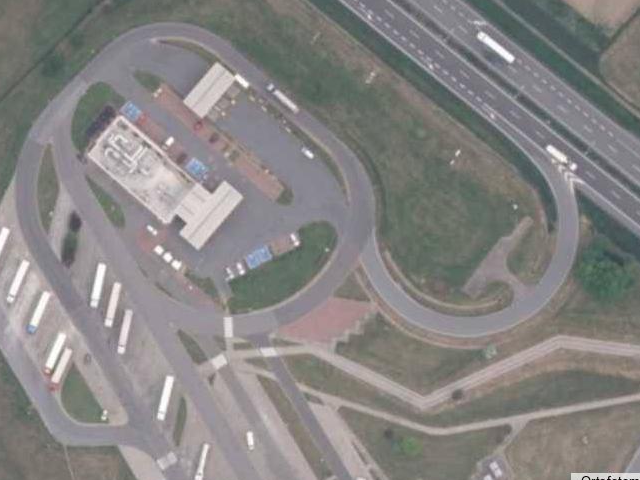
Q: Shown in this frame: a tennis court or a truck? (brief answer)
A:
truck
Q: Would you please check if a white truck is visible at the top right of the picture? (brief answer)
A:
Yes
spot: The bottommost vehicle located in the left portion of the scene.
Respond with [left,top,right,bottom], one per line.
[195,443,210,480]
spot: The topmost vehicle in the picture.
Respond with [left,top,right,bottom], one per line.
[476,31,516,64]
